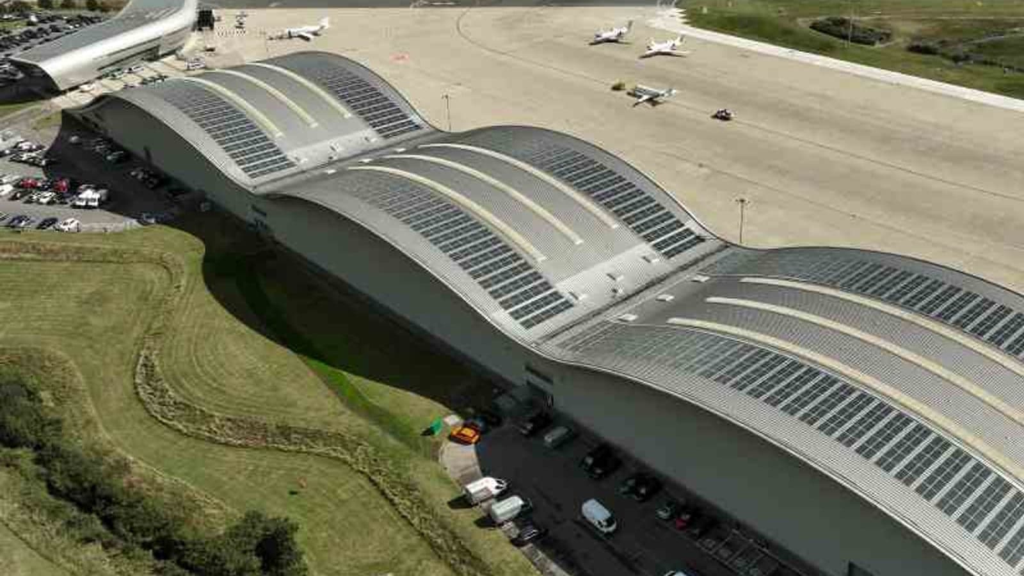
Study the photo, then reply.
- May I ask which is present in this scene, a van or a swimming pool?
van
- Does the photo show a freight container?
No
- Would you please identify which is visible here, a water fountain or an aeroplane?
aeroplane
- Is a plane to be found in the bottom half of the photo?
No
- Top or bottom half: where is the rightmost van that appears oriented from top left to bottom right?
bottom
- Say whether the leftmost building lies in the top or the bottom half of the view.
top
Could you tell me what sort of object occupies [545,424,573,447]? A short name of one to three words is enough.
vehicle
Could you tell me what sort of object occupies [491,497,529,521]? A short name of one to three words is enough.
vehicle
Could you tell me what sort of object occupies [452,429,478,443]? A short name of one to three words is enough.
car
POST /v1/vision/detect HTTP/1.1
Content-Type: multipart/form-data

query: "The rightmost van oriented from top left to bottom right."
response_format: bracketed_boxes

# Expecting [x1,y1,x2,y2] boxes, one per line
[582,498,616,533]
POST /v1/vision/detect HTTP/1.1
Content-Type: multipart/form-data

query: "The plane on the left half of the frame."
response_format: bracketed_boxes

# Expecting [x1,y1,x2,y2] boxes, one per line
[276,14,333,38]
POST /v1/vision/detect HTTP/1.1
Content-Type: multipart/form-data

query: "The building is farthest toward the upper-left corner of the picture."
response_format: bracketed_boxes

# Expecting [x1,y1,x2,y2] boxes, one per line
[8,0,214,91]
